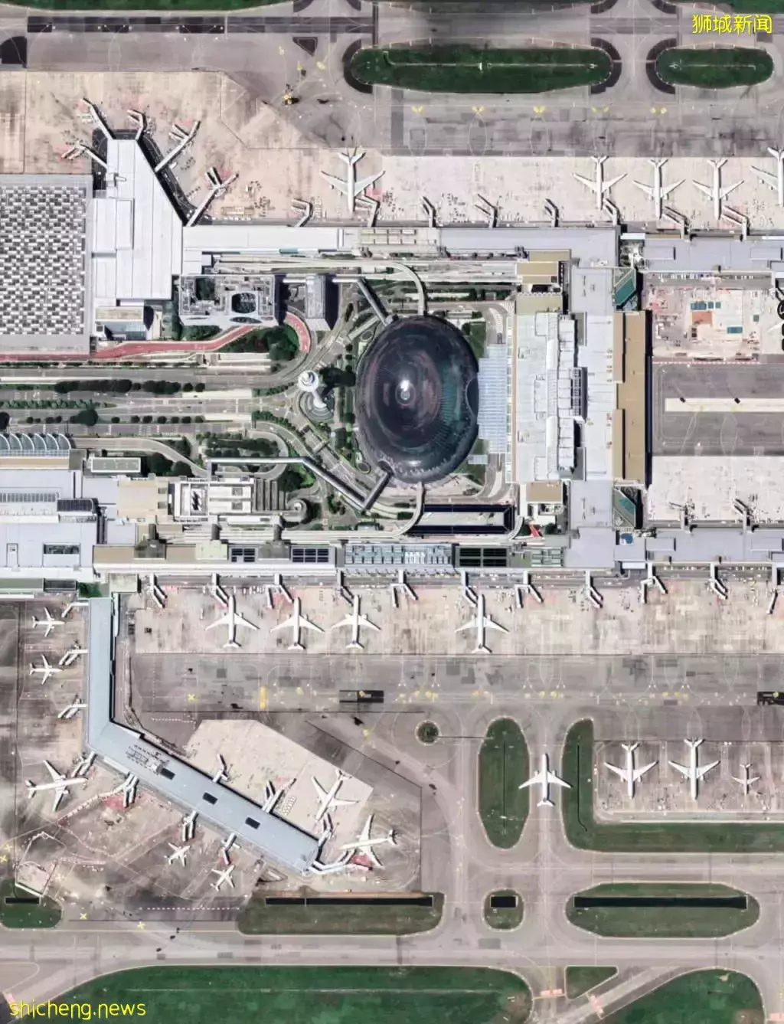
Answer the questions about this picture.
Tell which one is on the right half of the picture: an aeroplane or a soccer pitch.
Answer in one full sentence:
Visible on the right half of the picture is an aeroplane.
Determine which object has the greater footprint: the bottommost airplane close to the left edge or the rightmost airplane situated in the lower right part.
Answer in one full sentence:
Compared with the rightmost airplane situated in the lower right part, the bottommost airplane close to the left edge is the bigger one.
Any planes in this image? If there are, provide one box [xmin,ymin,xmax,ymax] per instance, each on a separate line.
[603,739,657,799]
[205,596,258,648]
[630,156,684,218]
[731,764,760,796]
[691,156,742,219]
[668,735,720,800]
[270,598,322,650]
[164,846,189,868]
[26,760,86,810]
[751,143,784,206]
[341,813,394,867]
[519,754,571,806]
[454,594,507,653]
[331,595,380,648]
[318,146,383,214]
[573,153,626,210]
[29,656,63,684]
[209,865,234,892]
[310,771,356,820]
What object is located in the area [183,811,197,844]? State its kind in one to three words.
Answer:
jet bridge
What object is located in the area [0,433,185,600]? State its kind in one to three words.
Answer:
building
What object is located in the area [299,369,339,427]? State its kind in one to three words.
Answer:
building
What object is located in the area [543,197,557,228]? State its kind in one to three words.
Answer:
jet bridge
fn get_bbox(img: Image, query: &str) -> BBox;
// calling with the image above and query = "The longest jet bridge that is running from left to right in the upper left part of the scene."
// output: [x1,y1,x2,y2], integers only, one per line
[60,143,107,169]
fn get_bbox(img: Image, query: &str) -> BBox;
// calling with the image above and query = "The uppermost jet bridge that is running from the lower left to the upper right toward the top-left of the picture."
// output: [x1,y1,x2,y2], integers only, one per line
[156,121,202,173]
